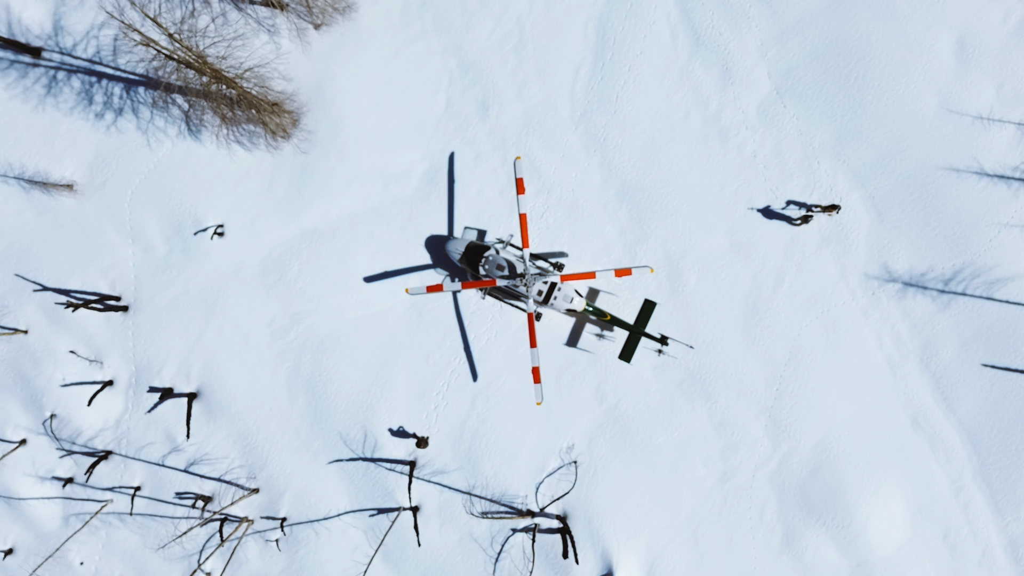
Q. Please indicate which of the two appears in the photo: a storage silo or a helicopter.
helicopter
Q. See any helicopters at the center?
Yes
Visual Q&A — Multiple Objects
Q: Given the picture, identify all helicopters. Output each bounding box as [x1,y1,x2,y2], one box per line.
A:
[406,158,694,403]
